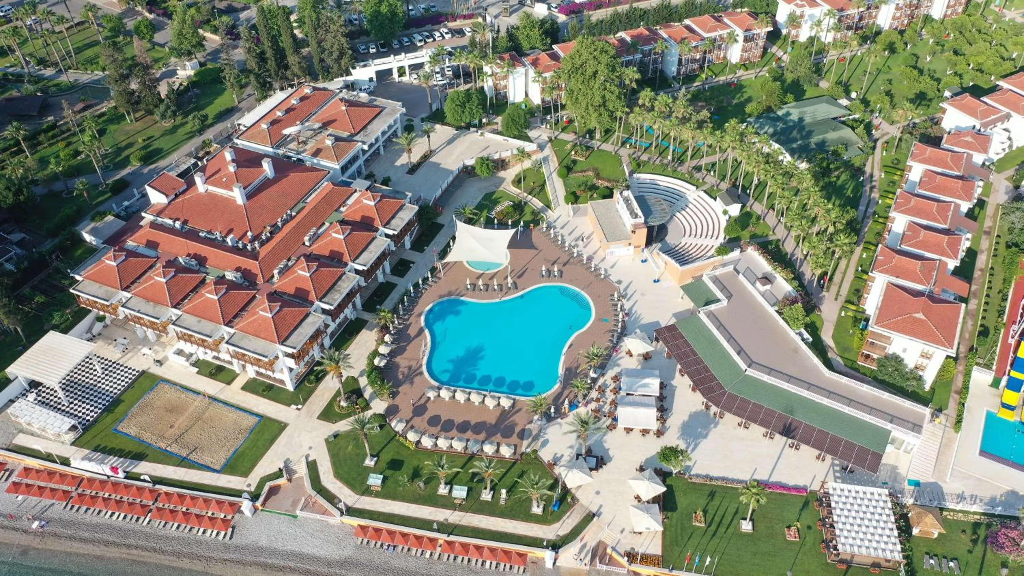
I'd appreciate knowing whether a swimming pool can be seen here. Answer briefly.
Yes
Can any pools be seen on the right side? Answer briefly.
Yes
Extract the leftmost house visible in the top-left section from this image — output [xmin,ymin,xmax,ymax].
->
[0,97,47,125]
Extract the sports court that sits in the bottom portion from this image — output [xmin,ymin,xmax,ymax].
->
[113,379,261,473]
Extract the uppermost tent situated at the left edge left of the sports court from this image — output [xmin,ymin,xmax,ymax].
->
[3,395,83,441]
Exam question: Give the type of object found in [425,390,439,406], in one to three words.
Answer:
umbrella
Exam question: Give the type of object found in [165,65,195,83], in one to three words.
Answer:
building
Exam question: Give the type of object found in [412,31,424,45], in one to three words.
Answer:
vehicle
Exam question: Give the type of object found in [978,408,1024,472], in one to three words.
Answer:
swimming pool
